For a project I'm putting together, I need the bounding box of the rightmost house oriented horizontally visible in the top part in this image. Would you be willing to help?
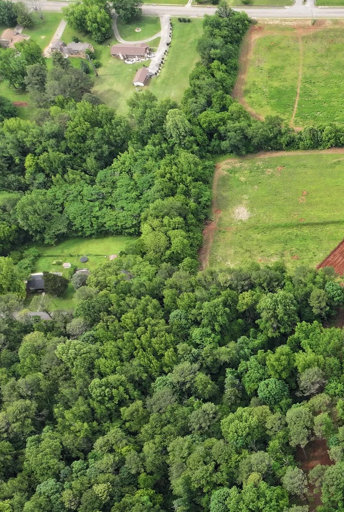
[110,43,150,59]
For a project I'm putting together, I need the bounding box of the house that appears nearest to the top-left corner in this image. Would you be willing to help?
[0,29,32,51]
